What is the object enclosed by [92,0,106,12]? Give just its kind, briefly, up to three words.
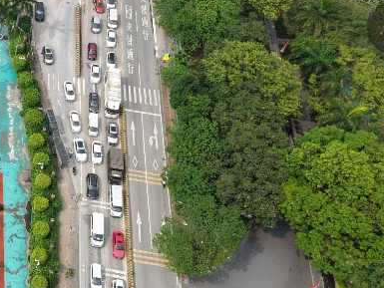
vehicle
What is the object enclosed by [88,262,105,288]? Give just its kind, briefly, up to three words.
car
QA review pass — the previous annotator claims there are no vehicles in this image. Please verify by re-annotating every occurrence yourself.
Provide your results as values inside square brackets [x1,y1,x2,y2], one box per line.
[110,232,126,260]
[110,279,124,288]
[62,82,77,102]
[90,141,104,164]
[92,0,106,12]
[105,50,118,67]
[107,183,126,218]
[89,211,107,247]
[105,29,118,47]
[87,93,101,114]
[105,123,120,145]
[106,145,127,184]
[90,13,103,33]
[102,67,125,115]
[88,262,105,288]
[85,174,101,199]
[89,63,102,84]
[106,8,119,28]
[68,111,83,133]
[72,139,88,162]
[106,0,117,8]
[86,111,101,137]
[86,42,99,61]
[34,2,45,20]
